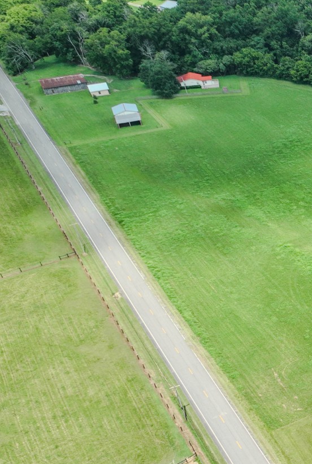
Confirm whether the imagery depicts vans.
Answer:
No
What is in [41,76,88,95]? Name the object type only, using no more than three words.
barn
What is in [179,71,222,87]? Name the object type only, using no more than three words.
house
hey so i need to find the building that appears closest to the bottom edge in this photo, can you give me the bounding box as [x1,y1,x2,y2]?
[114,107,142,129]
